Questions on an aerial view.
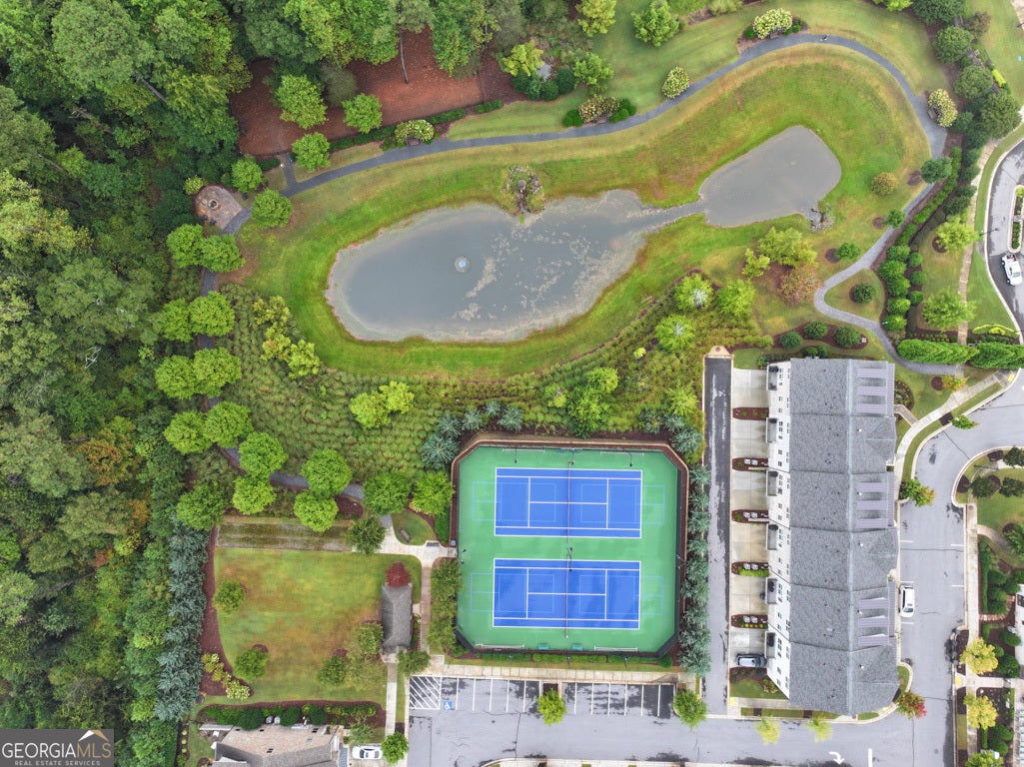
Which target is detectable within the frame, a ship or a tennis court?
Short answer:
tennis court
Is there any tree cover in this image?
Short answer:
Yes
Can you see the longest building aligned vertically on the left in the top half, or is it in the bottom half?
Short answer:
bottom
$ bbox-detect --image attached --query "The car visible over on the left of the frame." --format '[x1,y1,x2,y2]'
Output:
[351,745,381,761]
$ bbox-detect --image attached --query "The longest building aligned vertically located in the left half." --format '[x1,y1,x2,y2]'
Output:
[381,579,414,654]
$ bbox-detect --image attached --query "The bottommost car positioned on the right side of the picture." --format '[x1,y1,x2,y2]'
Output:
[738,654,768,670]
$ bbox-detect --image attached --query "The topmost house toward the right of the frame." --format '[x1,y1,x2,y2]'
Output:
[767,358,896,415]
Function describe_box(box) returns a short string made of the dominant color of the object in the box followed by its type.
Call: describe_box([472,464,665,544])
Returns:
blue tennis court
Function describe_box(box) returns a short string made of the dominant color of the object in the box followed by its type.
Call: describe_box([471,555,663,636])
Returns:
blue tennis court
